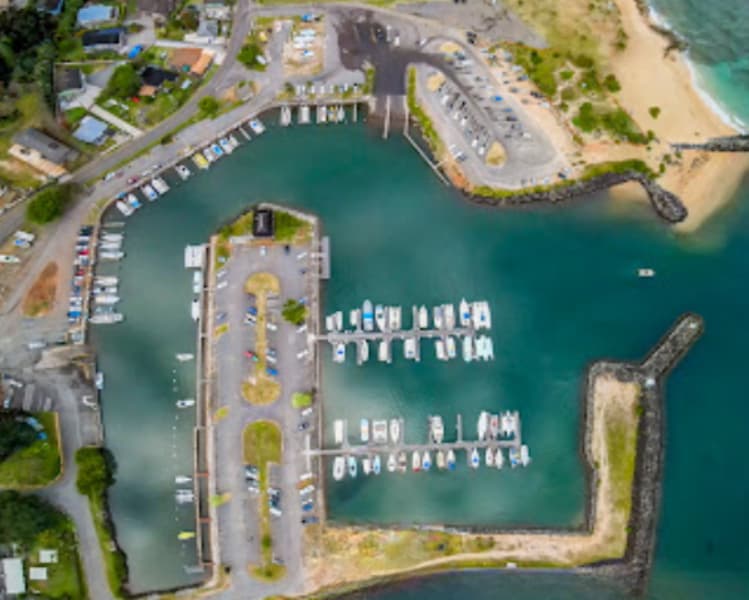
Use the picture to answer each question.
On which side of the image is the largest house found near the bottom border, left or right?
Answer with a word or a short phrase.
left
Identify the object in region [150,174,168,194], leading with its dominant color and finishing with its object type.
white boat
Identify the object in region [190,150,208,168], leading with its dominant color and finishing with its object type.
yellow boat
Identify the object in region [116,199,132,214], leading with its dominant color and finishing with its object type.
white boat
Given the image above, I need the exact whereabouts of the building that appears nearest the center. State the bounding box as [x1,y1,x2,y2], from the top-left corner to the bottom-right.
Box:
[253,209,274,236]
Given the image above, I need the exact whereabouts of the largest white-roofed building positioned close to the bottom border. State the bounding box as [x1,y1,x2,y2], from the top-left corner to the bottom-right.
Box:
[2,555,28,596]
